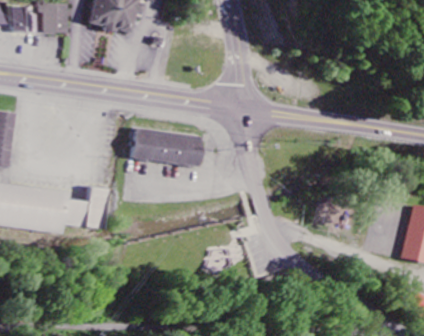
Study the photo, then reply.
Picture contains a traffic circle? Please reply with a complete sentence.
No, there is no traffic circle in the image.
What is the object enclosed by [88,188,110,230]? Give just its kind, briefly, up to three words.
building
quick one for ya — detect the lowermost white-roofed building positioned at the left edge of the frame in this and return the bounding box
[0,184,90,236]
